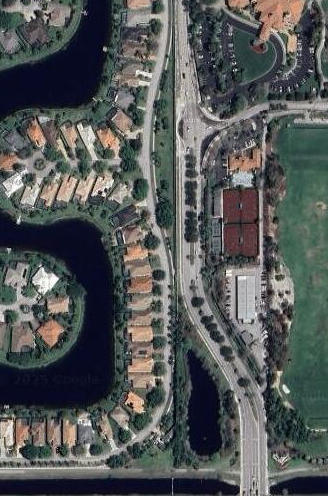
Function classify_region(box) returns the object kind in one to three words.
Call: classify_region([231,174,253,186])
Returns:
swimming pool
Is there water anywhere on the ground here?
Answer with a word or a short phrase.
Yes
